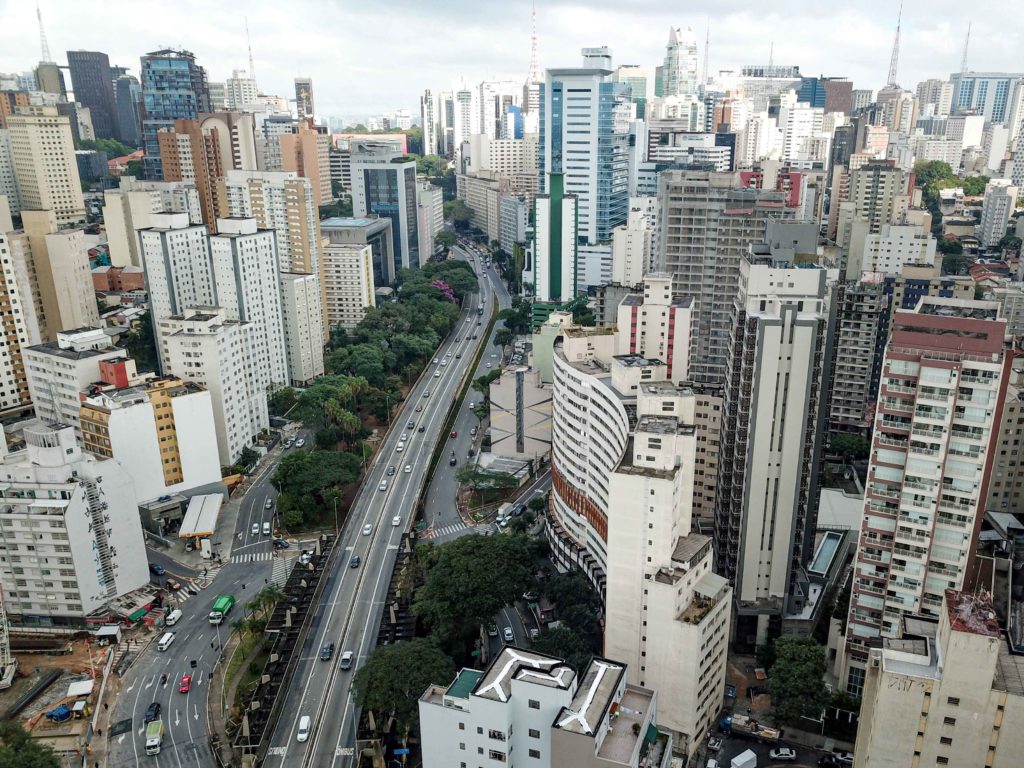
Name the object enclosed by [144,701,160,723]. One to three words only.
car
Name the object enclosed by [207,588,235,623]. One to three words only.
truck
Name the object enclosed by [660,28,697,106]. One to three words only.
building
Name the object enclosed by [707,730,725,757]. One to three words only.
vehicle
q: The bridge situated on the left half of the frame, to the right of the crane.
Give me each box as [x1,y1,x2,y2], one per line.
[253,291,496,768]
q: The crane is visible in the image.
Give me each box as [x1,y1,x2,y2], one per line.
[0,605,33,703]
